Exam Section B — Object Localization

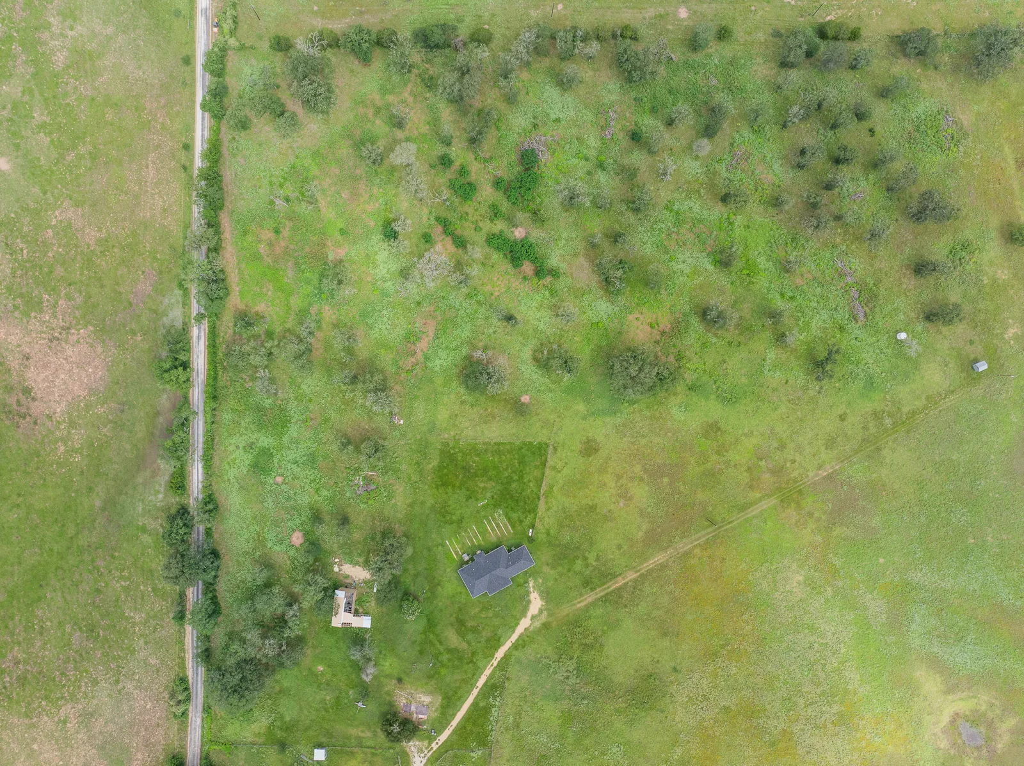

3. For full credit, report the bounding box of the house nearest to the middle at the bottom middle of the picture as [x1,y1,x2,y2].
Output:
[457,544,536,599]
